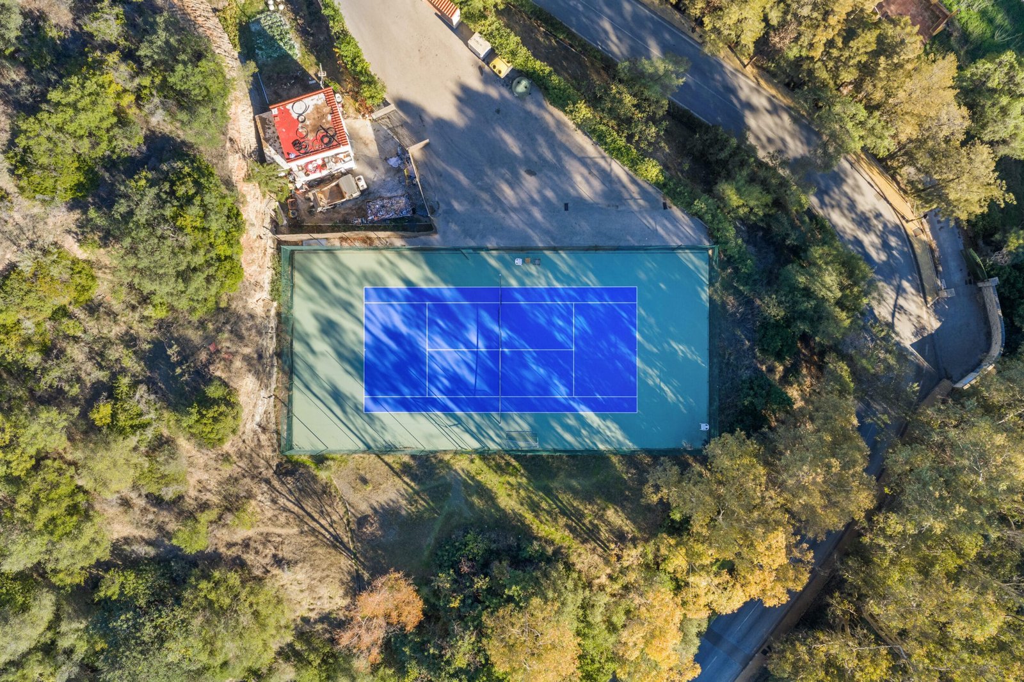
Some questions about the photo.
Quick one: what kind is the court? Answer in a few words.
tennis court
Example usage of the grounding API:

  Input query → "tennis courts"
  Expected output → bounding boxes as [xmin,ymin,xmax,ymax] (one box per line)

[291,249,710,451]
